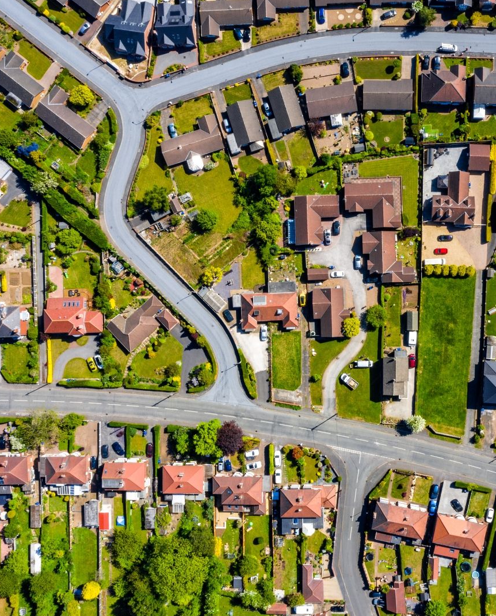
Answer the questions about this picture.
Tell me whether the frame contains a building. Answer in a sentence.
Yes, a building appears in the view.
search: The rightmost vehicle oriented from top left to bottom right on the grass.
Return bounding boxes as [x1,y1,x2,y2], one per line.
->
[340,373,359,389]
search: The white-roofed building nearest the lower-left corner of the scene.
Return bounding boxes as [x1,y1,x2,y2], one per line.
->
[30,540,45,573]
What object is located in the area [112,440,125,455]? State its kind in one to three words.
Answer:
vehicle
